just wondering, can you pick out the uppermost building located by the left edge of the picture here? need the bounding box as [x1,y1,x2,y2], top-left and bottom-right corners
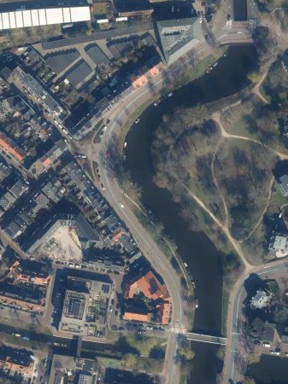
[0,5,92,29]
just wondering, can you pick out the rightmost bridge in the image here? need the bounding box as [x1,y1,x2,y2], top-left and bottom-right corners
[227,20,255,44]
